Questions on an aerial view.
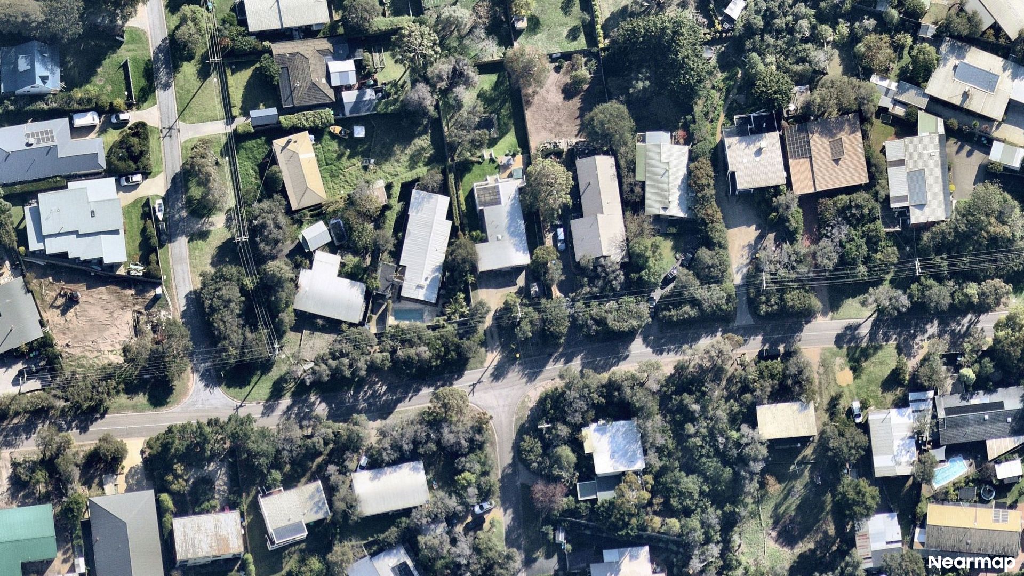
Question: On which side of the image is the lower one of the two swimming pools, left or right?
right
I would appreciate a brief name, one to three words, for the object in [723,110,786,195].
house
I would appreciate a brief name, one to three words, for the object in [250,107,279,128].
shed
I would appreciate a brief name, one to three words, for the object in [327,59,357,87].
building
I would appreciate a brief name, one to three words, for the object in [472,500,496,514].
car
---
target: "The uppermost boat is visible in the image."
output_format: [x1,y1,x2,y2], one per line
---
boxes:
[328,126,349,139]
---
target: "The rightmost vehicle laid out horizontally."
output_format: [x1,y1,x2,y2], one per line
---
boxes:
[758,347,783,359]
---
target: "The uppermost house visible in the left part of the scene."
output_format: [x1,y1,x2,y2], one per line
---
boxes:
[234,0,329,39]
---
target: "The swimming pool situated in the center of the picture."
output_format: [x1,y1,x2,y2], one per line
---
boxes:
[392,307,425,323]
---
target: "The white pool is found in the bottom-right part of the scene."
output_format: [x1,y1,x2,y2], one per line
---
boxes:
[932,455,970,490]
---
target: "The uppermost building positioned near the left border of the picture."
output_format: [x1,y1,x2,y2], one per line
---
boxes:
[0,40,65,100]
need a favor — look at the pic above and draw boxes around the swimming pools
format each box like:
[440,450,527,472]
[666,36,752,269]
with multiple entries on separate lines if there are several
[932,455,970,490]
[392,307,425,323]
